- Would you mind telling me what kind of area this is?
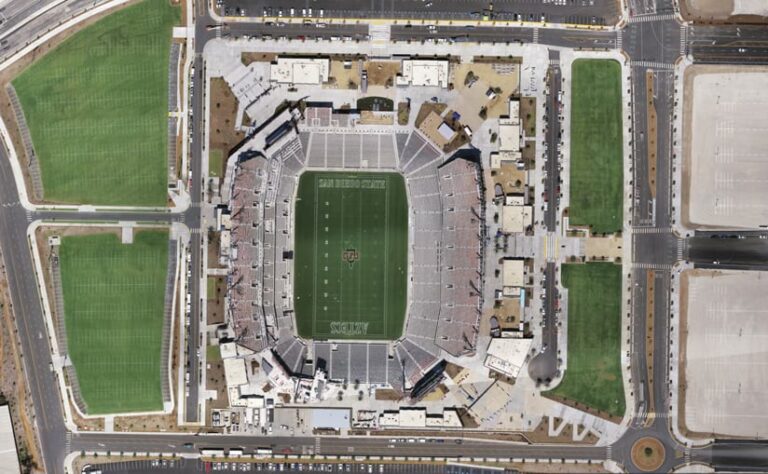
sports ground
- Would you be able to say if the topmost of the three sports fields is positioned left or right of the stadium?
left of it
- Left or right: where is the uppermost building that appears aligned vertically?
right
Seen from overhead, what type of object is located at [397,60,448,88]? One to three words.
building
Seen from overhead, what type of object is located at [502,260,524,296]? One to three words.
building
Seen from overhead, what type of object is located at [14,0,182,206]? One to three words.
sports field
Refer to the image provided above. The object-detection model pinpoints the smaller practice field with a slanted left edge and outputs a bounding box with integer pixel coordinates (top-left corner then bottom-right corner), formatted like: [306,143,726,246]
[60,229,169,415]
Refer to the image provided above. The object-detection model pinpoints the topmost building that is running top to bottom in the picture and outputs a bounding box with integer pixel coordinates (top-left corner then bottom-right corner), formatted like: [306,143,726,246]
[490,101,520,168]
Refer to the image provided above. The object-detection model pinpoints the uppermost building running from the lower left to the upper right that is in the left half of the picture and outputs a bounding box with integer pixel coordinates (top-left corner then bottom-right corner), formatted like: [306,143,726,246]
[230,109,300,164]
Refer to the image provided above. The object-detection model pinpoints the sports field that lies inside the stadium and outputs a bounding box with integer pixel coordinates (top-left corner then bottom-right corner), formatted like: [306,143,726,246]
[290,166,415,344]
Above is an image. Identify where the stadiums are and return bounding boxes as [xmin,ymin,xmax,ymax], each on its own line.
[226,107,487,388]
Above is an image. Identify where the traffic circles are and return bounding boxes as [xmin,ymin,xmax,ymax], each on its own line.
[630,437,665,472]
